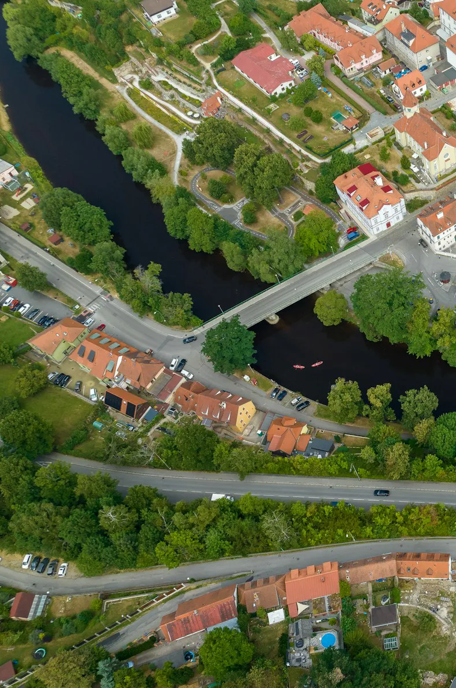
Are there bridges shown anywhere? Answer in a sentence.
Yes, a bridge is visible in the scene.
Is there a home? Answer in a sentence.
Yes, there is a home in the image.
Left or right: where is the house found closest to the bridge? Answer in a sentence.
It is on the right.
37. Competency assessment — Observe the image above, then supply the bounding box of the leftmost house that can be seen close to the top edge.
[138,0,177,24]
